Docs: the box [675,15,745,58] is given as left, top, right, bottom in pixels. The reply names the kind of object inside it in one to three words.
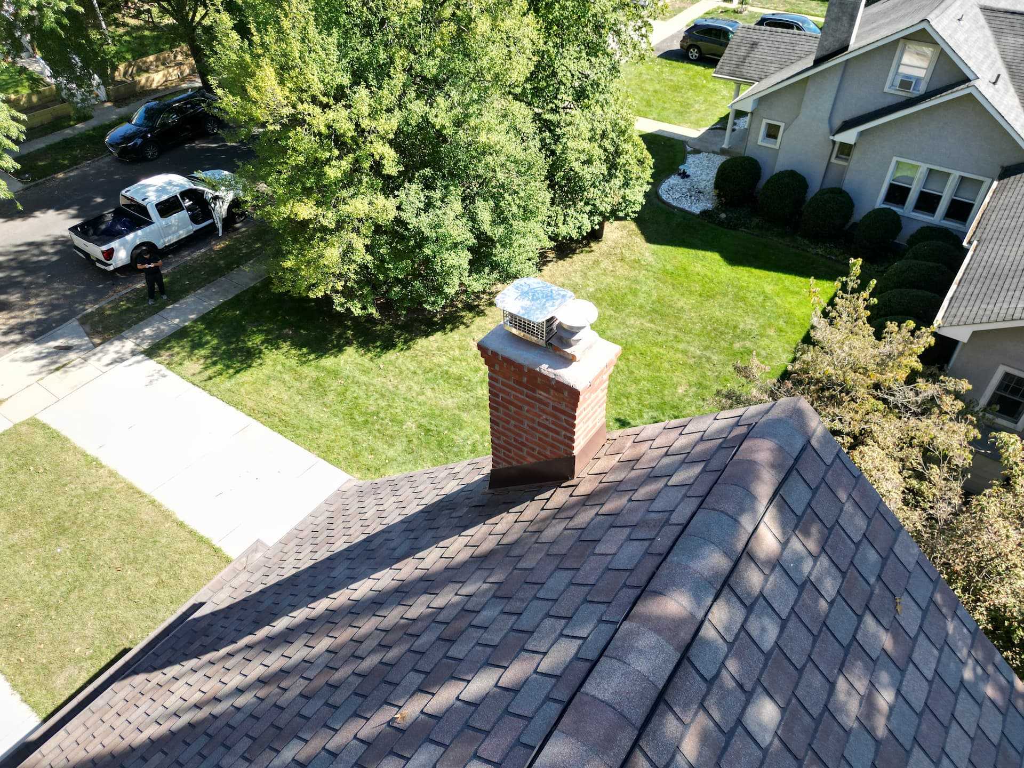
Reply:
car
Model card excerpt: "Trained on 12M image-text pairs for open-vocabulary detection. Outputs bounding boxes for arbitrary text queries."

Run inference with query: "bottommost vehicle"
[58,167,254,271]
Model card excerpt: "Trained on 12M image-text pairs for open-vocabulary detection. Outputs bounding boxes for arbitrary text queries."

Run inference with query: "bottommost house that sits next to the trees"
[0,278,1024,768]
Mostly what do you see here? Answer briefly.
buildings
